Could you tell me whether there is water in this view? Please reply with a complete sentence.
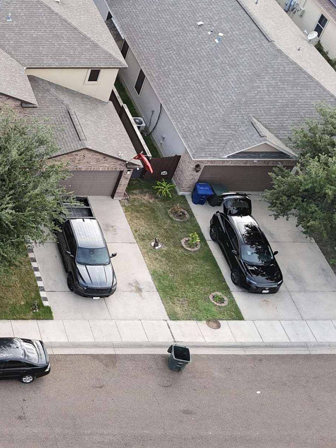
No, no water is visible.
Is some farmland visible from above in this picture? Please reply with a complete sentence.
No, the picture contains no farmland.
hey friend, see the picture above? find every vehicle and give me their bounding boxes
[210,198,280,295]
[51,199,118,299]
[0,337,55,384]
